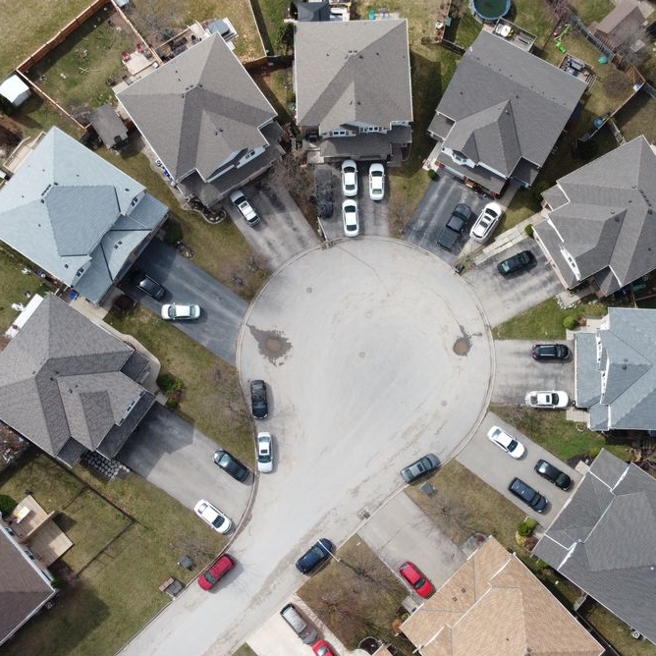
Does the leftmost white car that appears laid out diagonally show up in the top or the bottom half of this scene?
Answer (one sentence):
You can find the leftmost white car that appears laid out diagonally in the bottom half.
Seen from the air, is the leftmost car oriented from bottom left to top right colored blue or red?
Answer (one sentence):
The leftmost car oriented from bottom left to top right looks red in the image.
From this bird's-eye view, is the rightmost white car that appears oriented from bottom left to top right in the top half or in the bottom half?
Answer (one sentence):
You can find the rightmost white car that appears oriented from bottom left to top right in the top half.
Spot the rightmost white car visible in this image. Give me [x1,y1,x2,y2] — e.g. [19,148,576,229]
[526,390,567,409]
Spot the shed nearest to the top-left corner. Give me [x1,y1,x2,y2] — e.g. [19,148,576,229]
[0,75,35,112]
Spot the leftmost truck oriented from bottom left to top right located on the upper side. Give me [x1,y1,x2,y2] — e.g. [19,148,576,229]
[437,205,471,249]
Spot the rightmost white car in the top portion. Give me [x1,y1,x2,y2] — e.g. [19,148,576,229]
[471,204,502,242]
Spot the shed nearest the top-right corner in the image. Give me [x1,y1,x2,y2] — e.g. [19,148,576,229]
[594,0,649,58]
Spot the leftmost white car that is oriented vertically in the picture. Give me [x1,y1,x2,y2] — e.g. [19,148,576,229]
[255,432,274,474]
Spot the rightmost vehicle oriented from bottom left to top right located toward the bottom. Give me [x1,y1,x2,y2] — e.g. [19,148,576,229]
[399,453,440,483]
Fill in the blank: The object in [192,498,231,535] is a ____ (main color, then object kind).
white car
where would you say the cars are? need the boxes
[342,201,359,236]
[293,539,334,575]
[192,498,231,535]
[399,453,440,483]
[531,342,569,360]
[471,204,502,242]
[229,191,261,227]
[533,458,572,491]
[508,478,547,513]
[250,380,268,420]
[255,432,274,474]
[487,425,524,459]
[526,390,567,409]
[161,304,200,321]
[197,552,236,590]
[367,166,384,200]
[312,640,337,656]
[213,448,250,483]
[129,270,167,300]
[341,162,358,198]
[497,251,535,275]
[398,560,433,600]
